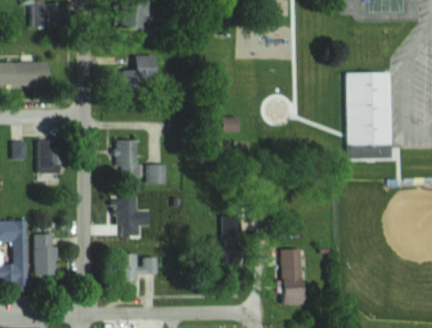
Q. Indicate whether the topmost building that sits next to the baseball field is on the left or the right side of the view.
right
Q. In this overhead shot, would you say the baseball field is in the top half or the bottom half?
bottom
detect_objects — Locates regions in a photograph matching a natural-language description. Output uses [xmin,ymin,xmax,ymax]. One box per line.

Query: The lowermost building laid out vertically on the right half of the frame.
[280,249,304,306]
